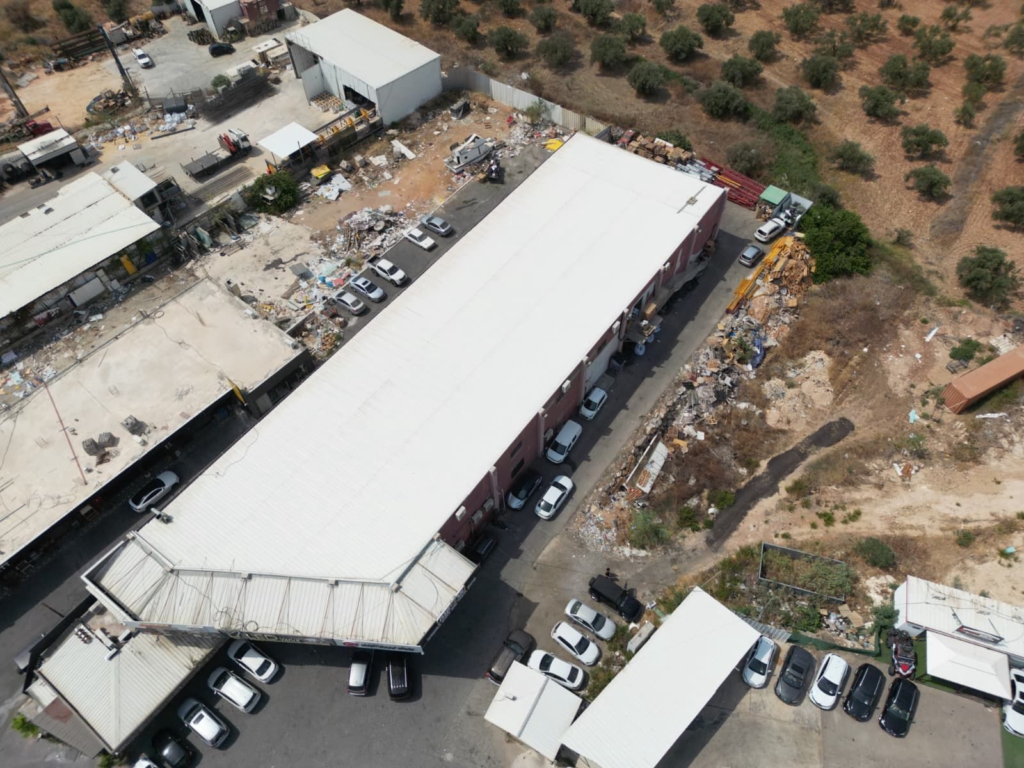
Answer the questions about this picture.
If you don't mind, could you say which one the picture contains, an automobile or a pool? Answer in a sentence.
I can see an automobile in this picture.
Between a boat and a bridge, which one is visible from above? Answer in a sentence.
Visible in the photo is a boat.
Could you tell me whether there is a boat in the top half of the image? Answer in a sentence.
Yes, I can see a boat in the top half of the image.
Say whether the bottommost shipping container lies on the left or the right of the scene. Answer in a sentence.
The bottommost shipping container appears in the right half of the scene.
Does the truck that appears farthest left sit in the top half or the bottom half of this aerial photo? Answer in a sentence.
You can find the truck that appears farthest left in the top half.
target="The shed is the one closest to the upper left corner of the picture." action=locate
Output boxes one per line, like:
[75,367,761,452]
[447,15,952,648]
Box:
[17,129,92,188]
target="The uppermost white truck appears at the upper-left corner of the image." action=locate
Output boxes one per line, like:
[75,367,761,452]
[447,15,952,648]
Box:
[126,45,152,68]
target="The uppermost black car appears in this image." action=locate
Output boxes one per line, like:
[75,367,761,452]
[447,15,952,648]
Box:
[206,41,238,58]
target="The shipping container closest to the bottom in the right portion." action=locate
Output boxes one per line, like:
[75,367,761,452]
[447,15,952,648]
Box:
[934,339,1024,412]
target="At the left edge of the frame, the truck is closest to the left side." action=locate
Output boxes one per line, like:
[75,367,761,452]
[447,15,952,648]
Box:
[0,99,49,154]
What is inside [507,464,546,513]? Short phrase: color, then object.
black car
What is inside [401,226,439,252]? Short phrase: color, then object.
white car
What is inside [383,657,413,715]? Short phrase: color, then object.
black car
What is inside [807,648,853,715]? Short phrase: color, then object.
white car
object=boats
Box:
[441,127,495,173]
